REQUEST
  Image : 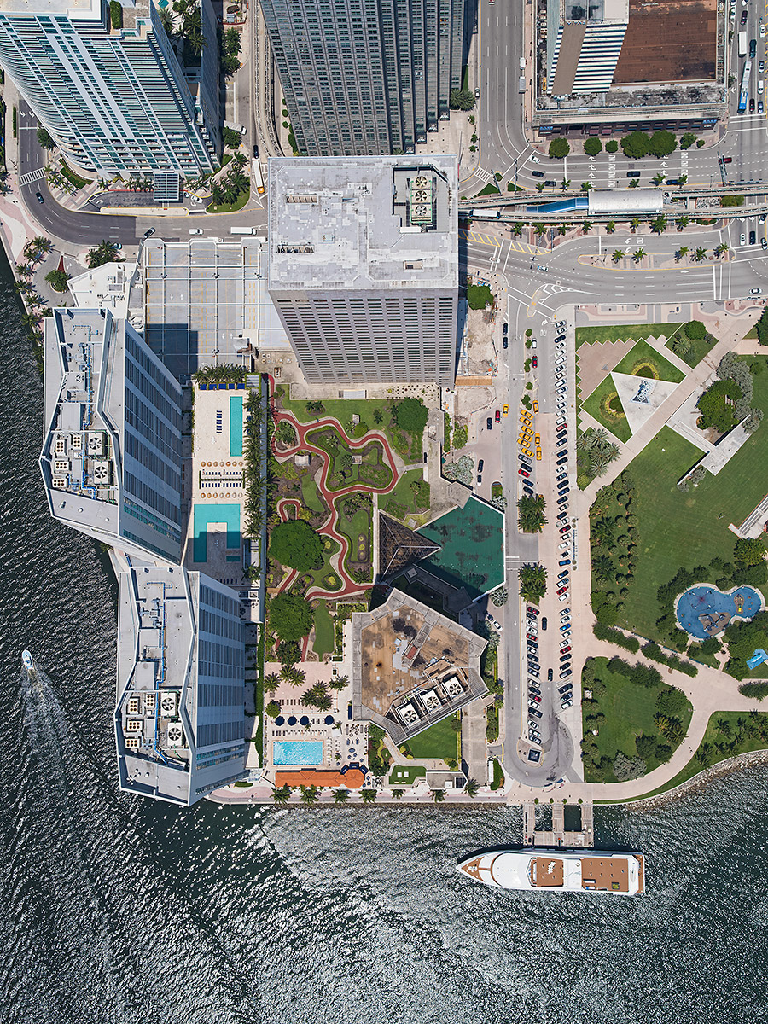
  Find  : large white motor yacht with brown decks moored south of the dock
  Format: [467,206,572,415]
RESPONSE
[457,846,642,896]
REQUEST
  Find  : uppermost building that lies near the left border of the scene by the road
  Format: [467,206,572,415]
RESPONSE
[0,0,223,207]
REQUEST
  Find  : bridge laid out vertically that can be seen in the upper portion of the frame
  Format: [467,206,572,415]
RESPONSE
[253,0,284,159]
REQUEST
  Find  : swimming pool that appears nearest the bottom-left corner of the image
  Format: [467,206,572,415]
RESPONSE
[274,741,322,765]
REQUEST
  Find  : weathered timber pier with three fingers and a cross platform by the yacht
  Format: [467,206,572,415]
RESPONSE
[523,805,595,848]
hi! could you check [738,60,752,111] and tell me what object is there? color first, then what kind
white vehicle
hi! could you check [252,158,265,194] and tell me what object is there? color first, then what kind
white vehicle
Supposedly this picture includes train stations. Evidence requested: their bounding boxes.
[512,190,683,217]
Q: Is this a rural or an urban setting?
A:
urban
